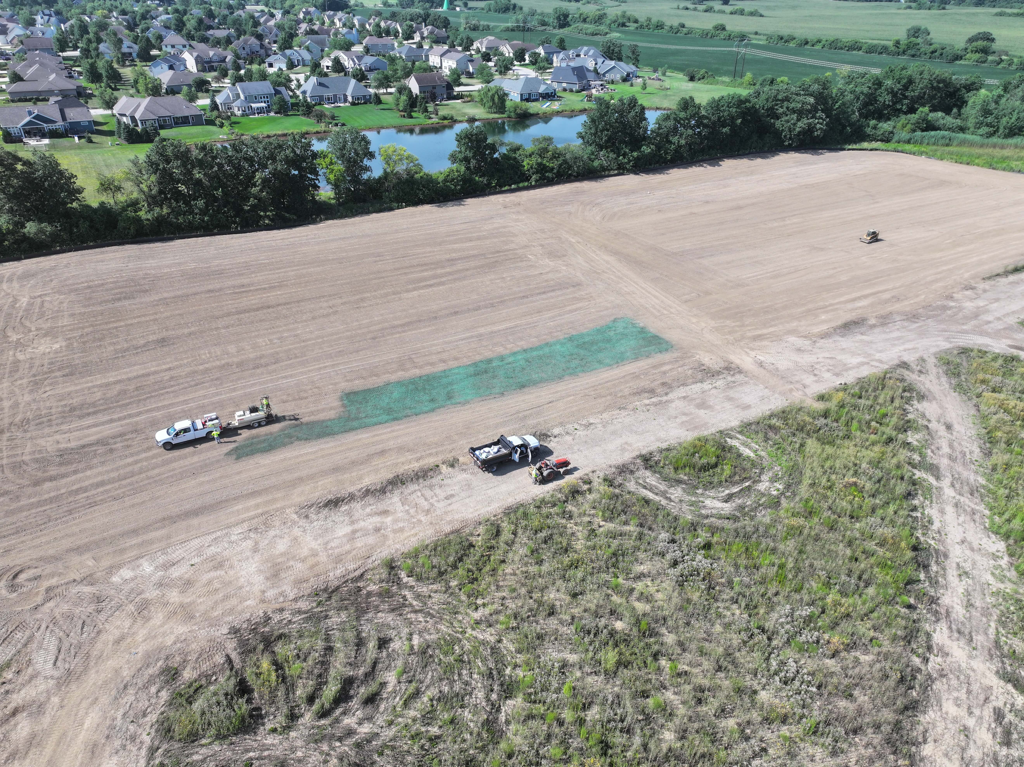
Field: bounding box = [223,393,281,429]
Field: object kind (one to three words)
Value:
trailer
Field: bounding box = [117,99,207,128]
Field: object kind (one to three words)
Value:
house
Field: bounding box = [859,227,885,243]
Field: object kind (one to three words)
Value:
work vehicle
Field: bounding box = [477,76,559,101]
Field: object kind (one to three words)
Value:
house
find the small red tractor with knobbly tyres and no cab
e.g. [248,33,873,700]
[535,458,569,483]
